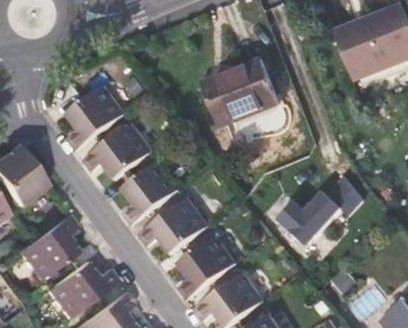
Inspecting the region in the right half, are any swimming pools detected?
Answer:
Yes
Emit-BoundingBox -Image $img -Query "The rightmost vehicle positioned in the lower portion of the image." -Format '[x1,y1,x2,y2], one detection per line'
[184,308,201,328]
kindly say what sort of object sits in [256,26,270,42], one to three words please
vehicle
